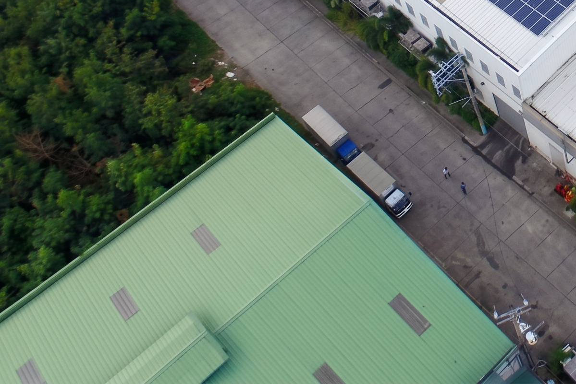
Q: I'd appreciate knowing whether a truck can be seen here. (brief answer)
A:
Yes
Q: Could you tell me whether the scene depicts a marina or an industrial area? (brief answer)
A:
industrial area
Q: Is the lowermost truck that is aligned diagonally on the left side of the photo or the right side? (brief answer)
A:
right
